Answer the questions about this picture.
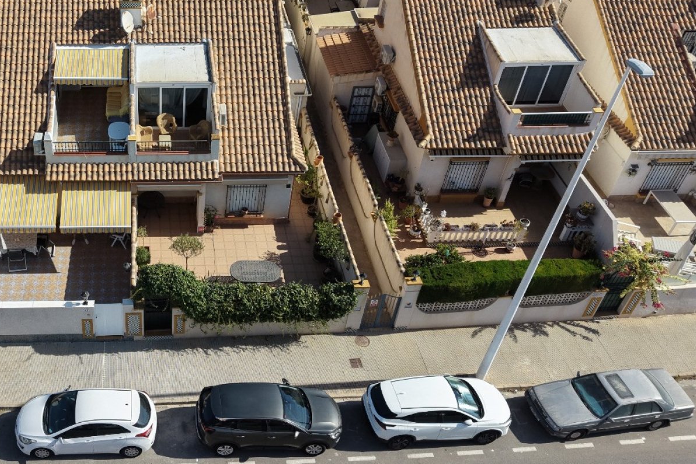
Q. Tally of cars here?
four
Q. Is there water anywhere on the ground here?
No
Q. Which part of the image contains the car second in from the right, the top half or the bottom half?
bottom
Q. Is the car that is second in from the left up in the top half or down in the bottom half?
bottom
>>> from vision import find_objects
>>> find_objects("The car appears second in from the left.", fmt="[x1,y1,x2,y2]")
[192,378,343,460]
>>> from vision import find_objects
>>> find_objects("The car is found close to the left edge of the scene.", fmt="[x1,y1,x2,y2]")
[16,384,159,462]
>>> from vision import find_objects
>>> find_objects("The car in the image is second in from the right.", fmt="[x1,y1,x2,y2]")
[362,368,513,453]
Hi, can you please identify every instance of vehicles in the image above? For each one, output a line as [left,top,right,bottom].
[192,378,343,460]
[519,367,694,443]
[16,384,159,462]
[362,368,513,453]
